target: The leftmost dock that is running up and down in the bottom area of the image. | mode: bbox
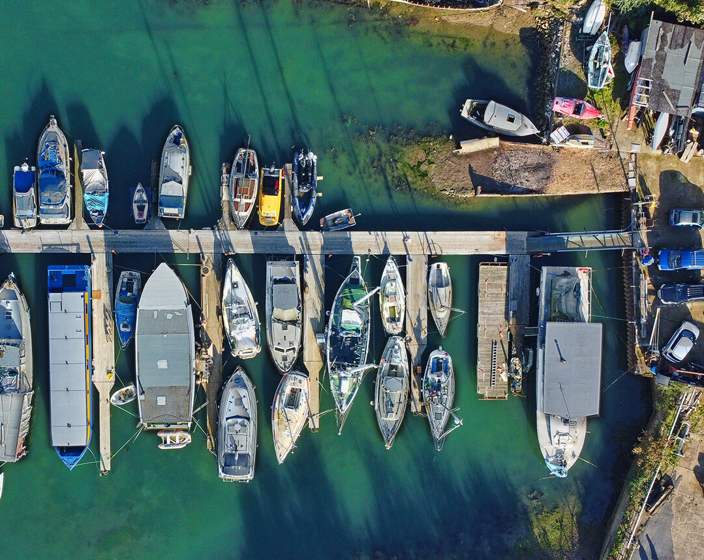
[91,254,114,470]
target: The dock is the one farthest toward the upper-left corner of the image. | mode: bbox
[67,140,90,230]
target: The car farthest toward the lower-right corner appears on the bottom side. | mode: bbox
[659,320,699,365]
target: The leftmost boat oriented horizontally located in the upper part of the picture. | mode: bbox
[320,208,360,230]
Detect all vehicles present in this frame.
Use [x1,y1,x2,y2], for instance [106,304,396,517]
[655,247,704,272]
[665,206,704,231]
[659,320,699,365]
[655,281,704,306]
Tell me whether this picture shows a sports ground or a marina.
marina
